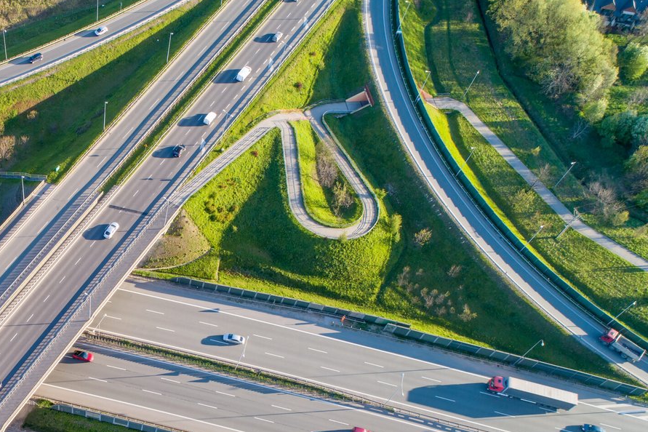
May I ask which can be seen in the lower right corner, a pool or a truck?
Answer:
truck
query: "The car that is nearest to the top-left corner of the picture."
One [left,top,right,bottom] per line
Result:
[27,52,44,65]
